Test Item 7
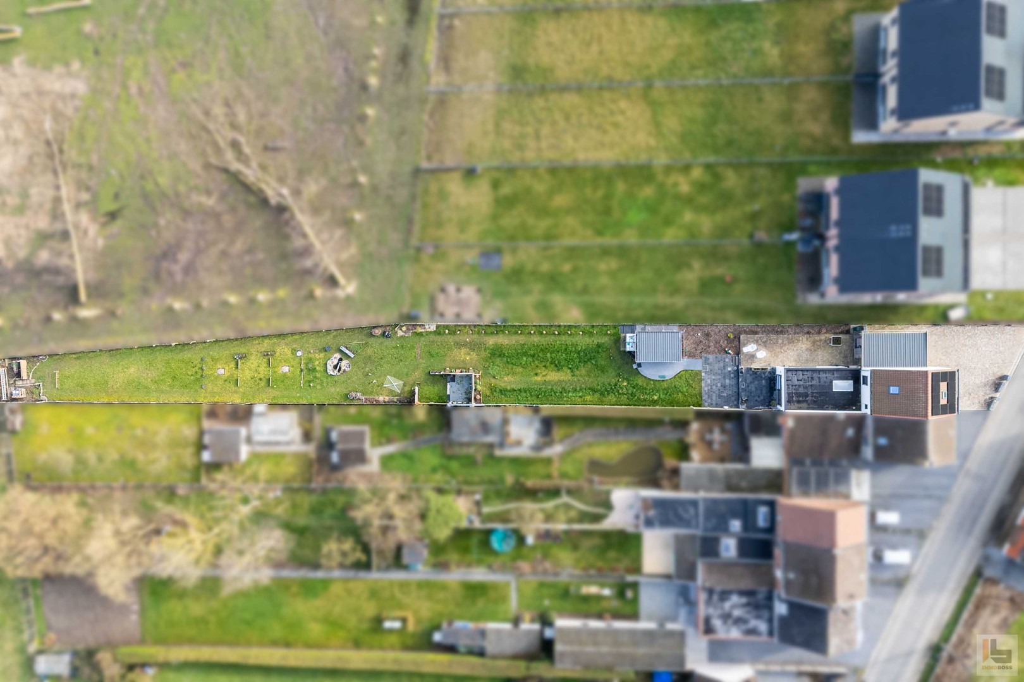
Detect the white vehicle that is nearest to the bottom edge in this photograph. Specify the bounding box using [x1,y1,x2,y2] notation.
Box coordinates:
[867,544,911,563]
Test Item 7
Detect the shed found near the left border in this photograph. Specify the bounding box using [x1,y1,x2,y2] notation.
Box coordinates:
[35,648,80,675]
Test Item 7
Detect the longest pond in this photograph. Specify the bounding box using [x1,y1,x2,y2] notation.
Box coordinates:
[588,445,662,476]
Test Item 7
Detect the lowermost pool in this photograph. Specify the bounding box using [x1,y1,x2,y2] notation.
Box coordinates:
[489,528,515,553]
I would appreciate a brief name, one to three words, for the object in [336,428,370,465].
shed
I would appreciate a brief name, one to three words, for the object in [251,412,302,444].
greenhouse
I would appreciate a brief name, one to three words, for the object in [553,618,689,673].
barn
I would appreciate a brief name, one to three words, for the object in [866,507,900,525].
vehicle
